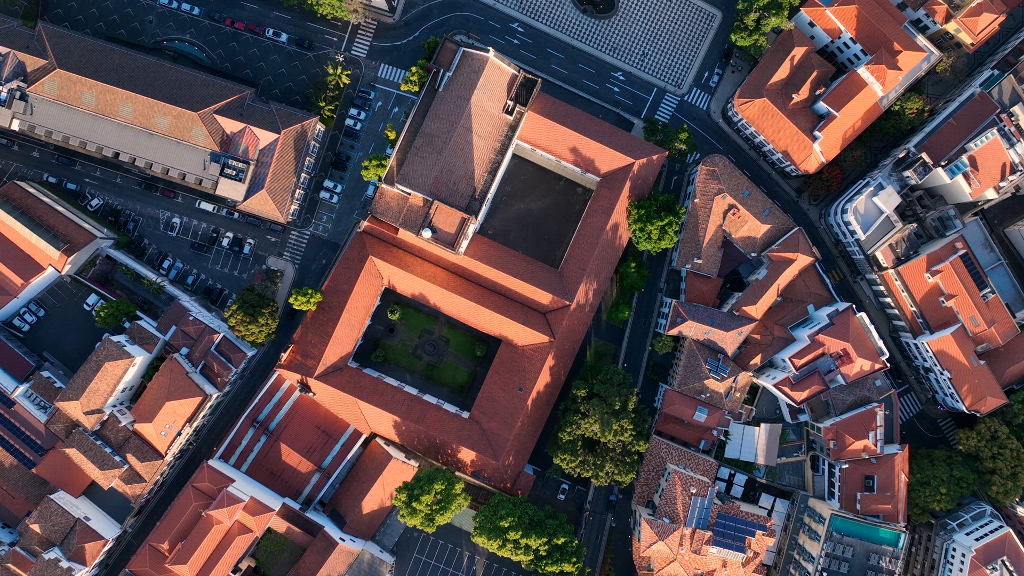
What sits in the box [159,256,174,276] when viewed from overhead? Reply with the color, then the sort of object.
blue car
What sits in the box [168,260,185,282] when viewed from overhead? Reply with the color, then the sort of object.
blue car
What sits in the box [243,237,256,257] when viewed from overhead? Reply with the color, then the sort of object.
blue vehicle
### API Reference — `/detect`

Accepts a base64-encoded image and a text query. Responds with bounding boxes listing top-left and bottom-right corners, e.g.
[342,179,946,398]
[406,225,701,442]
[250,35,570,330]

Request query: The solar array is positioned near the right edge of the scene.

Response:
[960,252,987,289]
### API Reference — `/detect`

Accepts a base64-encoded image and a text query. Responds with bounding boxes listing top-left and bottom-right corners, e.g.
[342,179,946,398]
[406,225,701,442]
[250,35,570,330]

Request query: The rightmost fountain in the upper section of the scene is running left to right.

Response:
[568,0,621,22]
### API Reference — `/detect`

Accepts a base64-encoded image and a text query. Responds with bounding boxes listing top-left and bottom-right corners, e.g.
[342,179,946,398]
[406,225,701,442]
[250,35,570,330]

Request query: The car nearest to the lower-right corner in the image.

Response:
[891,364,909,386]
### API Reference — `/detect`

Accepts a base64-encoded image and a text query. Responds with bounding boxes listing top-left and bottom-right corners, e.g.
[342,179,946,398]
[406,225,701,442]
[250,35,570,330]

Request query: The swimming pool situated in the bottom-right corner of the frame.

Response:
[829,516,901,548]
